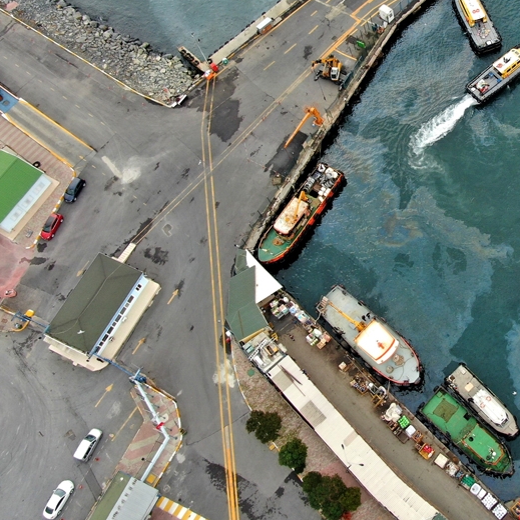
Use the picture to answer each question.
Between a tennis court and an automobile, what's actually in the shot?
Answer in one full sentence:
It is an automobile that can be seen here.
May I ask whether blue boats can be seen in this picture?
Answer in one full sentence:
No, I find no blue boat anywhere in the image.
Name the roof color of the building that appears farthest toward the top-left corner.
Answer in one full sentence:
The color of the roof on the building that appears farthest toward the top-left corner is green.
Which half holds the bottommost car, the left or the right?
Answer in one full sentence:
The bottommost car appears in the left half of the scene.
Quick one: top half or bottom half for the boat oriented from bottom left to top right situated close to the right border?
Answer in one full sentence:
It is in the top half that the boat oriented from bottom left to top right situated close to the right border appears.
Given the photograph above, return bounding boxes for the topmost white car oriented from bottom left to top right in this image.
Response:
[70,426,105,464]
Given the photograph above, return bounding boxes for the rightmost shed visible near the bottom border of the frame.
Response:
[269,360,440,520]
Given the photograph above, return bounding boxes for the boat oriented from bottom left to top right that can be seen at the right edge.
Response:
[465,47,520,106]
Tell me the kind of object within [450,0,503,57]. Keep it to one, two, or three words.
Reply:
boat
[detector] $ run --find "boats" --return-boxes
[465,47,520,106]
[254,161,345,266]
[418,387,518,481]
[308,288,424,389]
[450,0,503,57]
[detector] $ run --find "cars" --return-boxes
[62,174,89,204]
[70,426,105,464]
[40,212,65,241]
[40,479,77,520]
